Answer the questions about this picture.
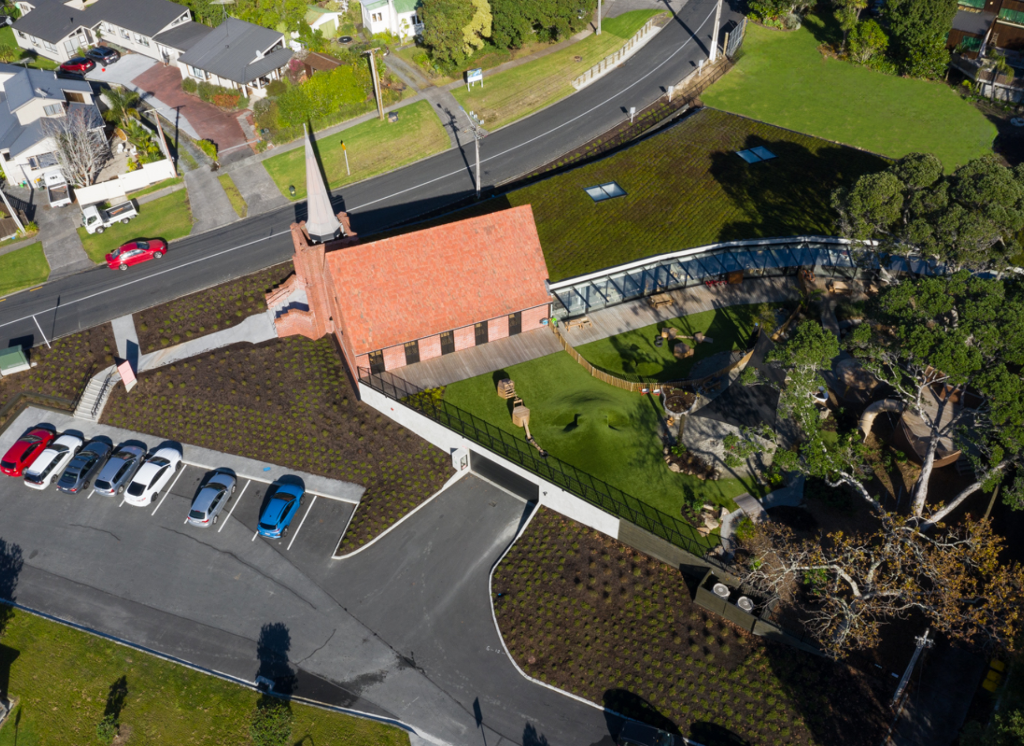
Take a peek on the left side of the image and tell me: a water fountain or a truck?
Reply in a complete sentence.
The one visible on the left side of the image is a truck.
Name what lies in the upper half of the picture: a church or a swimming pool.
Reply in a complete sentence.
It is a church that can be seen in the upper half of the picture.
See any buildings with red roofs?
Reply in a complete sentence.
Yes, the photo shows a building with a red roof.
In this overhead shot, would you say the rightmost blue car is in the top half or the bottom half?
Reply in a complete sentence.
The rightmost blue car is in the bottom half of the image.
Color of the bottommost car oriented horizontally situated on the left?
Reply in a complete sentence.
The bottommost car oriented horizontally situated on the left is red.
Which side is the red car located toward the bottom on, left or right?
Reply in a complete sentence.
The red car located toward the bottom is on the left side of the image.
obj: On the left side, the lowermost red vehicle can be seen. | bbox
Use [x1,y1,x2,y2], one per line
[0,429,53,480]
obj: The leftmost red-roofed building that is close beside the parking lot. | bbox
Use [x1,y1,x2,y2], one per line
[287,114,555,386]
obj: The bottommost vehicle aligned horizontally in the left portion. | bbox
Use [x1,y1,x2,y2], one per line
[106,239,167,269]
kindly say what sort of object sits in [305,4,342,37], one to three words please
building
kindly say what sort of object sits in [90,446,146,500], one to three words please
car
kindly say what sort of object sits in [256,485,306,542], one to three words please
car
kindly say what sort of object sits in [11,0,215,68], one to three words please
house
